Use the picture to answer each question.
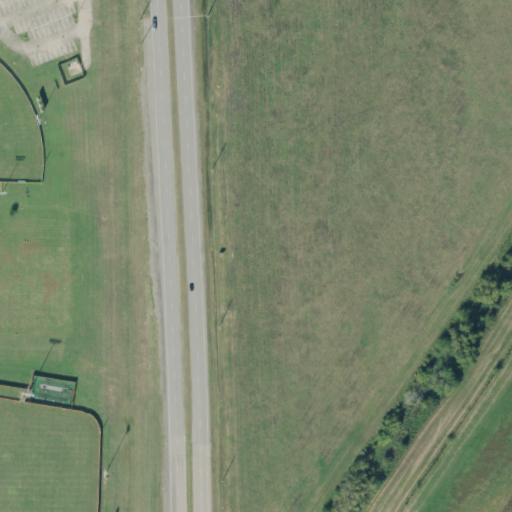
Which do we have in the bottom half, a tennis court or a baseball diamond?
baseball diamond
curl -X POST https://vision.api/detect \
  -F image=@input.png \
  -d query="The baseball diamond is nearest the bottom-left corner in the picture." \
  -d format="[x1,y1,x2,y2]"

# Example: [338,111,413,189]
[0,398,100,512]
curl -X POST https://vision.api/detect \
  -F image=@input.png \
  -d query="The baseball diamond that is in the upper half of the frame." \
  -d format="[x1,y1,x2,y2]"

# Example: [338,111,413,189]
[0,64,42,182]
